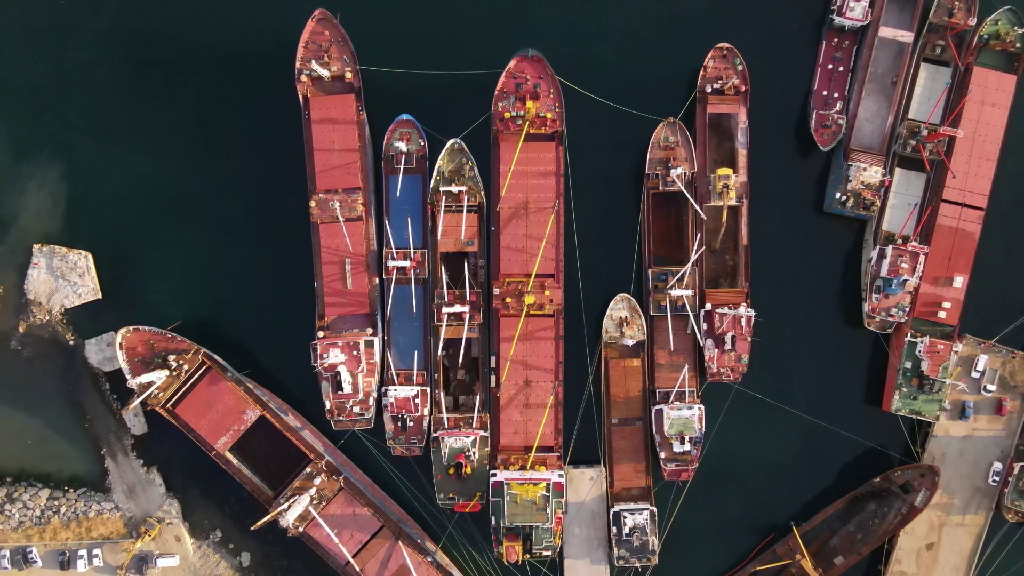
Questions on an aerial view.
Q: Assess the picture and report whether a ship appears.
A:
Yes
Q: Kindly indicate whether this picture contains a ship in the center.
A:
Yes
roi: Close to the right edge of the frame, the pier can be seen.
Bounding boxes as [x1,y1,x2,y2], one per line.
[883,333,1024,576]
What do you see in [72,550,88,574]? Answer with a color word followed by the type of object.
white vehicle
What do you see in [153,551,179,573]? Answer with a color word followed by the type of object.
white vehicle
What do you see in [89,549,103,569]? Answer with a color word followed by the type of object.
white car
